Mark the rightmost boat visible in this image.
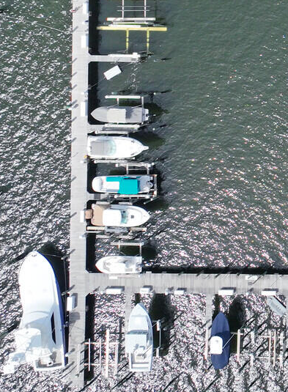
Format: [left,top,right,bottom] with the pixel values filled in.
[267,295,285,314]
